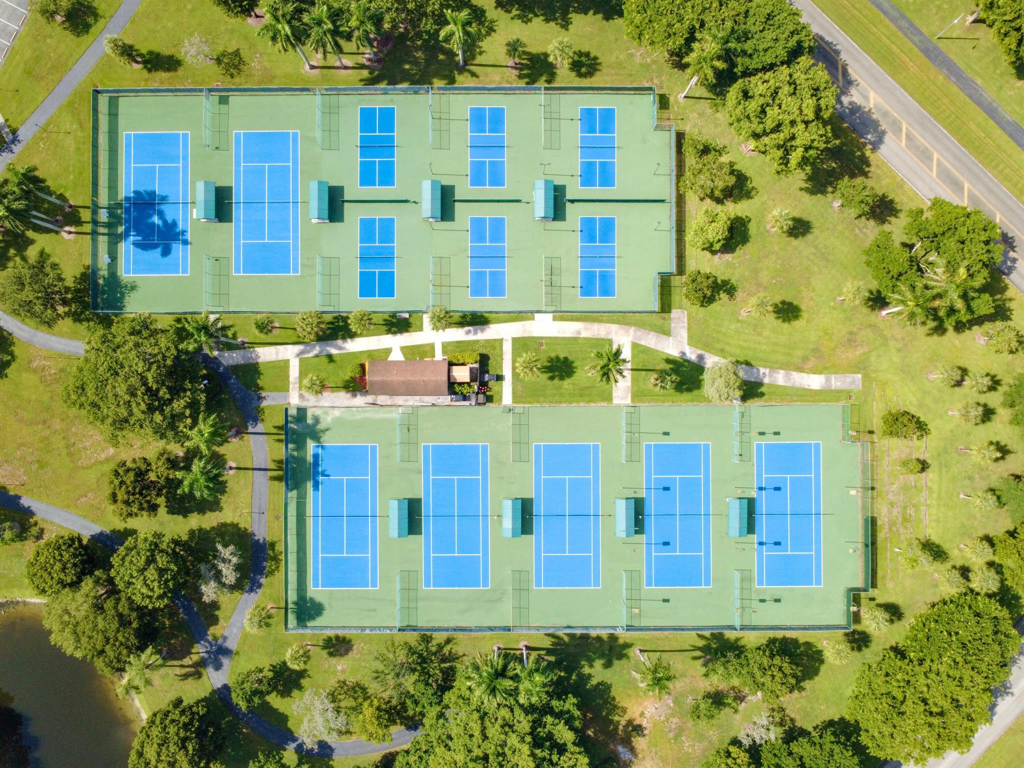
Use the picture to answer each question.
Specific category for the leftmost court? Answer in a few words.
tennis court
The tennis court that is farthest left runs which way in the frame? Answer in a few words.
up and down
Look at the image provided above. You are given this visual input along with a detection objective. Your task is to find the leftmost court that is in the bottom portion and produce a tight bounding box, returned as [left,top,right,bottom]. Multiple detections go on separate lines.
[312,444,378,589]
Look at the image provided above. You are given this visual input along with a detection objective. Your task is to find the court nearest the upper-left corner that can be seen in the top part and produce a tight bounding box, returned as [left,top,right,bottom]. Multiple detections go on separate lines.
[123,132,189,275]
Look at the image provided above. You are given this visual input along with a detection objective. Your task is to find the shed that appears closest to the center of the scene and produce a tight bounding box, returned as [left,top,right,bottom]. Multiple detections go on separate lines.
[450,366,470,382]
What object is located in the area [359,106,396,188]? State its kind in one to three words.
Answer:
sports court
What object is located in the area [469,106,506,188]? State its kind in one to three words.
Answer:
sports court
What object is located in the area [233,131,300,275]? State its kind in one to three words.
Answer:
tennis court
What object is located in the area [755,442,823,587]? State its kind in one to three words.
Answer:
tennis court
